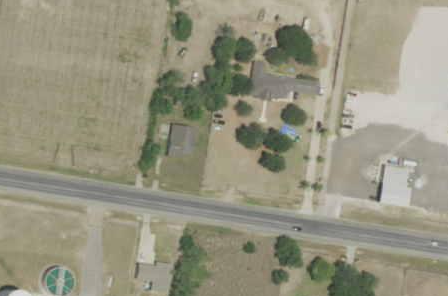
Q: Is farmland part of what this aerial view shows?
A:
Yes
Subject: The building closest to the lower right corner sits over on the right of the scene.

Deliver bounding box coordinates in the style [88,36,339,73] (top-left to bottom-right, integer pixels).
[376,166,412,206]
